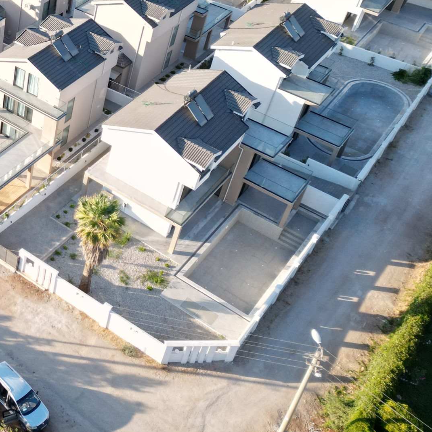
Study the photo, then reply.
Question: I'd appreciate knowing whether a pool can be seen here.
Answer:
Yes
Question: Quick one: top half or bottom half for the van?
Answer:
bottom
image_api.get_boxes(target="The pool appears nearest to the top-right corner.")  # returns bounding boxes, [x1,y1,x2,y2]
[358,15,432,71]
